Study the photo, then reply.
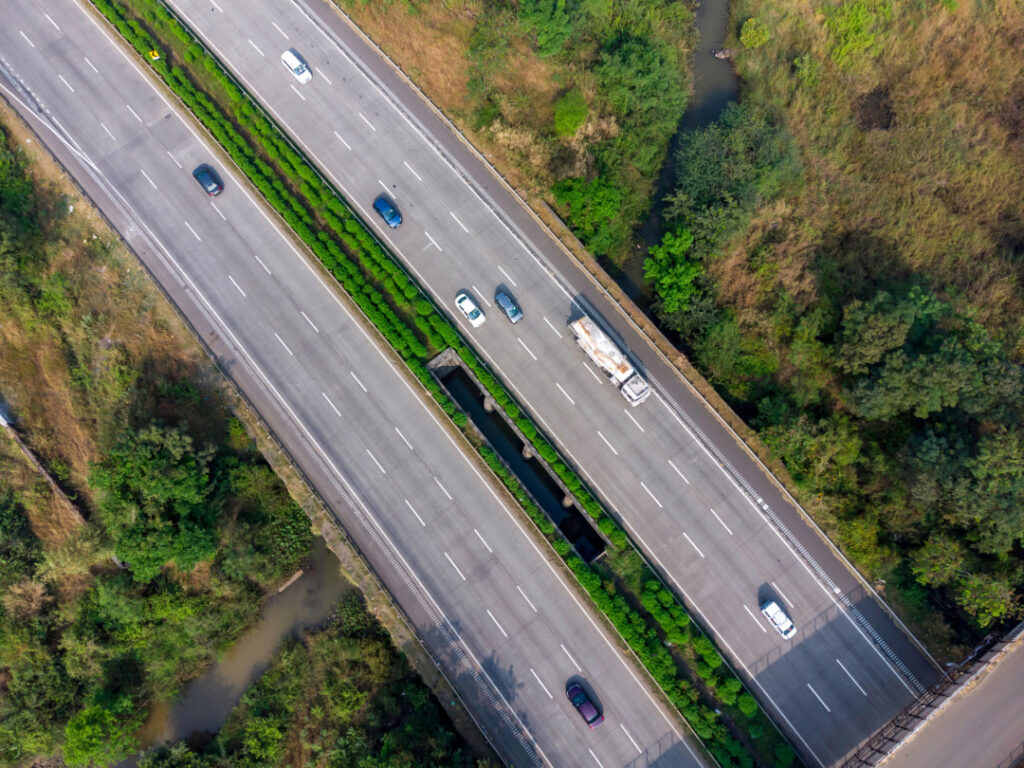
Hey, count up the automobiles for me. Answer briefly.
7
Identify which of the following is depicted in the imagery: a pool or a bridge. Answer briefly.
bridge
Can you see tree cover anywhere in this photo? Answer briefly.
Yes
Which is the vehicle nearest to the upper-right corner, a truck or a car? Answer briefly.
truck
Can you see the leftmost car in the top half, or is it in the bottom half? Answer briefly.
top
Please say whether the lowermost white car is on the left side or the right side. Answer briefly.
right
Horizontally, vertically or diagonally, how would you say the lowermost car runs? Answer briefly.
diagonally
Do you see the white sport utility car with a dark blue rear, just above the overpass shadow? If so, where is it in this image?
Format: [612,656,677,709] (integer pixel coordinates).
[755,596,797,642]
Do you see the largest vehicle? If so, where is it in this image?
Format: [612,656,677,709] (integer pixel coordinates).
[570,314,655,405]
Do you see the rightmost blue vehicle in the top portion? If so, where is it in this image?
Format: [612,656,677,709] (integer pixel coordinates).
[492,290,524,323]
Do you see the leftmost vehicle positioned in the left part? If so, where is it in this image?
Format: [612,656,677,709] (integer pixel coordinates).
[191,165,223,198]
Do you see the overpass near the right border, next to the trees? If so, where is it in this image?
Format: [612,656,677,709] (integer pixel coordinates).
[817,618,1024,768]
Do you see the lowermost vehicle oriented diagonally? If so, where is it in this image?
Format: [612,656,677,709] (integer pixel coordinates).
[564,680,606,730]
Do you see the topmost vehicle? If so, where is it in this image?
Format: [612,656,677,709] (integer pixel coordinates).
[277,48,312,84]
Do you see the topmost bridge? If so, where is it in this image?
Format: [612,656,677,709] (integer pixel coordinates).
[423,346,611,572]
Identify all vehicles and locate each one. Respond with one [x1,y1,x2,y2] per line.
[191,165,223,198]
[570,314,655,405]
[564,680,606,730]
[370,196,403,230]
[453,291,489,329]
[755,596,797,642]
[492,290,524,323]
[277,48,312,84]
